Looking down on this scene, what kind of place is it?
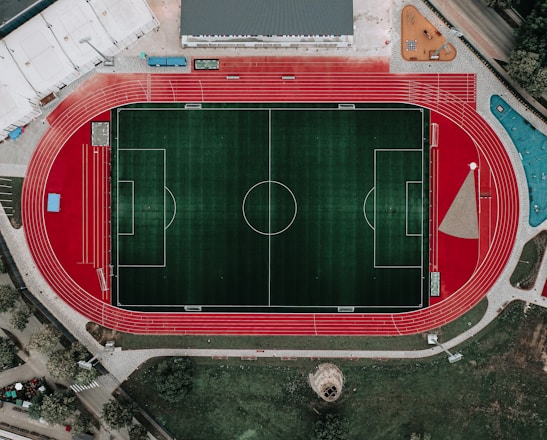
sports ground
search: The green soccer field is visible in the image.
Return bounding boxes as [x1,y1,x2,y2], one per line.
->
[111,102,429,312]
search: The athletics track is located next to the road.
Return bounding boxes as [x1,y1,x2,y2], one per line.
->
[21,56,521,335]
